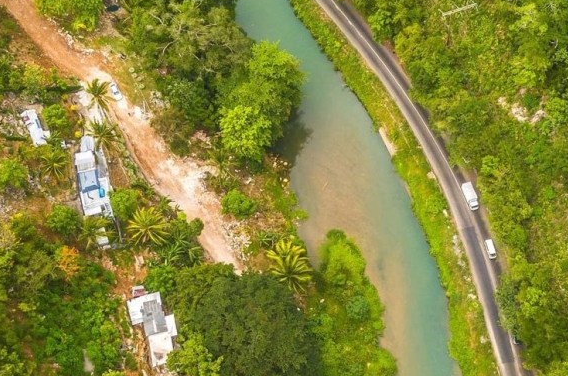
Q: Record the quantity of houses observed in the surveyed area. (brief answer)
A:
three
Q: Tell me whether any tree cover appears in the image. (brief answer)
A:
Yes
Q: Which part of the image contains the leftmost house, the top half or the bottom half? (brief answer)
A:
top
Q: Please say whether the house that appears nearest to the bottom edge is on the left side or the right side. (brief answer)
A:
left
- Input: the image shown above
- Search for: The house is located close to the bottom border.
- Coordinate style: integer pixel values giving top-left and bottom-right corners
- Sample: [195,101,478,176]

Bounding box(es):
[127,283,179,367]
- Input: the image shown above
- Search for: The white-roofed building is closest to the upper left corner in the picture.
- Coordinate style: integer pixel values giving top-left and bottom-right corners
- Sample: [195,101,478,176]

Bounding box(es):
[21,110,53,150]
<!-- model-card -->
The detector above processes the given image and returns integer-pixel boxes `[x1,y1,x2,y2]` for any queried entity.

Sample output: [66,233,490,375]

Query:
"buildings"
[97,228,111,247]
[127,283,179,367]
[21,110,53,150]
[76,136,116,218]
